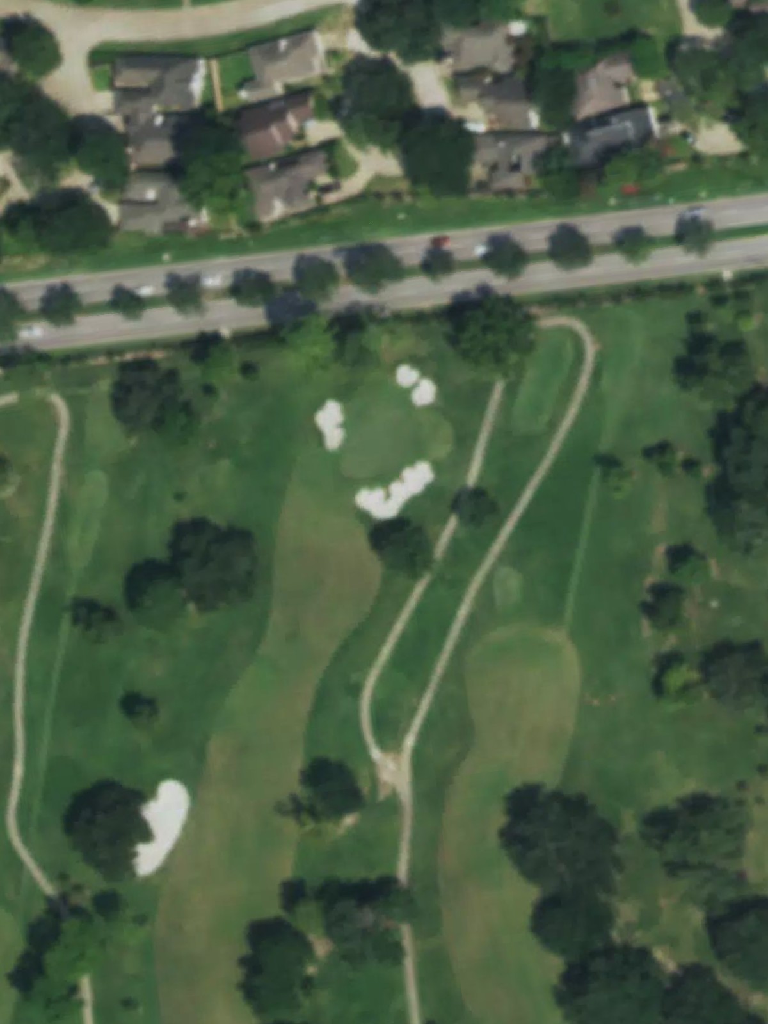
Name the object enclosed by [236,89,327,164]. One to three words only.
house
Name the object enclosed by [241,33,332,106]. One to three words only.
house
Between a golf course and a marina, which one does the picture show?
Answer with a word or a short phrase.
golf course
